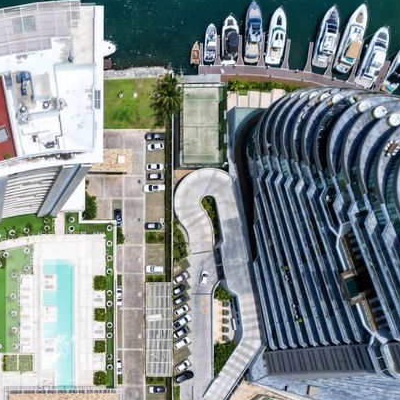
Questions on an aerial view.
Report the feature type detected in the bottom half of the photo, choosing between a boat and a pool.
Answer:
pool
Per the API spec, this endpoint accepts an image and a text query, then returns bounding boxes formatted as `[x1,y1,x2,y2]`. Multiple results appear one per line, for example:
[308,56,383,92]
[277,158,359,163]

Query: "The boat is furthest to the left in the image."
[103,38,117,56]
